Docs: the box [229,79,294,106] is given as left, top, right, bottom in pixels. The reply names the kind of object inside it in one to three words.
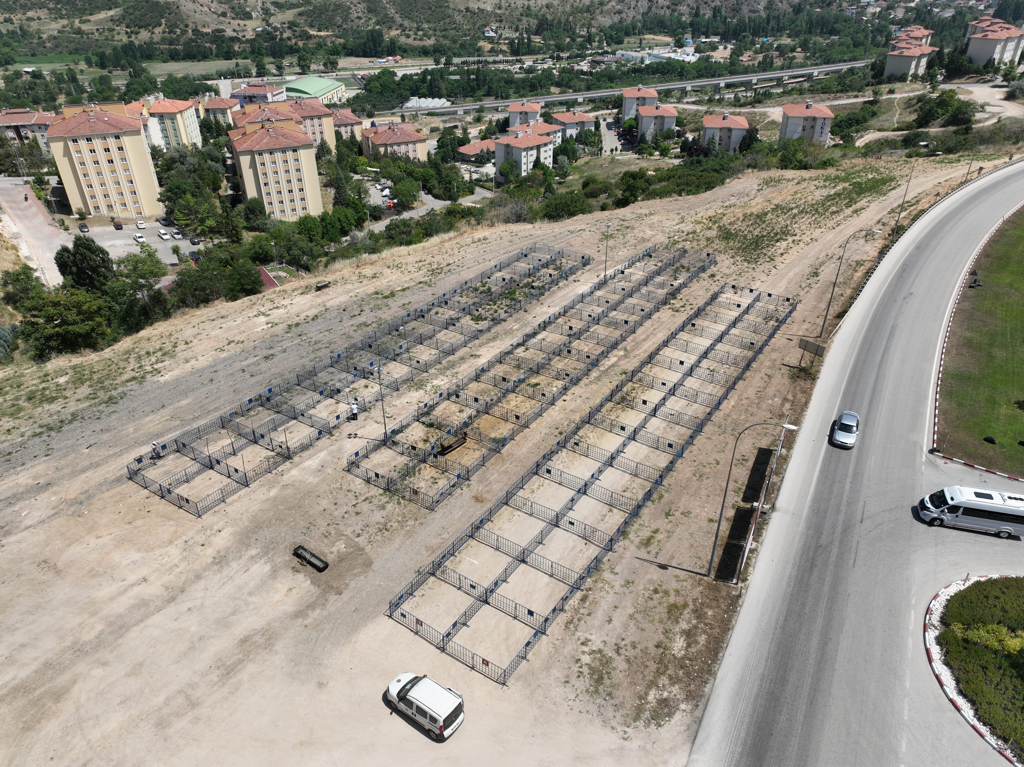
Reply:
building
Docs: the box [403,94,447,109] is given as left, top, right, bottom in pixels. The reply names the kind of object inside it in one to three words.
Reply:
greenhouse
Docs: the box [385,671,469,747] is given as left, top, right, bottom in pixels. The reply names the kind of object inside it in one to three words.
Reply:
van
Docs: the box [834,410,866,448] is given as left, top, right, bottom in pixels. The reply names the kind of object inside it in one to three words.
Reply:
car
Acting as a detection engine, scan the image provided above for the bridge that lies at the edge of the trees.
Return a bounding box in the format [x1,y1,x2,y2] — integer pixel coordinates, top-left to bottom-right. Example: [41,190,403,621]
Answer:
[349,54,882,120]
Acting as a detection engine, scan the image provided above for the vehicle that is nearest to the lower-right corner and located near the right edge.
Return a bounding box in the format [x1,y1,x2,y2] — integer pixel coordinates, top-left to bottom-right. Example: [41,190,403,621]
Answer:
[919,483,1024,538]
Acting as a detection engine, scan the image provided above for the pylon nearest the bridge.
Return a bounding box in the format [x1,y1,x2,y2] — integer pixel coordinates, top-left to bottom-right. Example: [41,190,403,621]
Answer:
[260,239,282,285]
